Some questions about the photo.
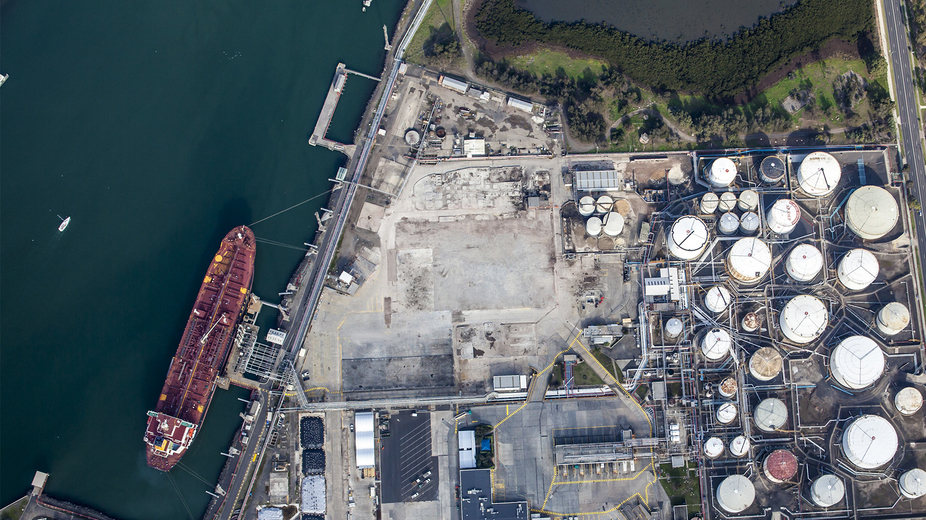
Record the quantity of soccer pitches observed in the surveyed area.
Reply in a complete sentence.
I count no soccer pitches.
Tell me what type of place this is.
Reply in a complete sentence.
It's an industrial area.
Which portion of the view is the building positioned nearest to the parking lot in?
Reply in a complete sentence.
Look in the bottom portion of the view to spot the building positioned nearest to the parking lot.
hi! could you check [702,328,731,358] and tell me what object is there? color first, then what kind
white storage tank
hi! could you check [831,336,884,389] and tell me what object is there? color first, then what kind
white storage tank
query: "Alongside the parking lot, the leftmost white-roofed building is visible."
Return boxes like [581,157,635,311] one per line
[355,412,375,468]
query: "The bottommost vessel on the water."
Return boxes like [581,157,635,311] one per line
[146,225,255,471]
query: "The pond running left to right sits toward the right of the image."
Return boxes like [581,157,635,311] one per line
[515,0,799,42]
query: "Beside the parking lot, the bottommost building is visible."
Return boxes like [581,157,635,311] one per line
[460,469,528,520]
